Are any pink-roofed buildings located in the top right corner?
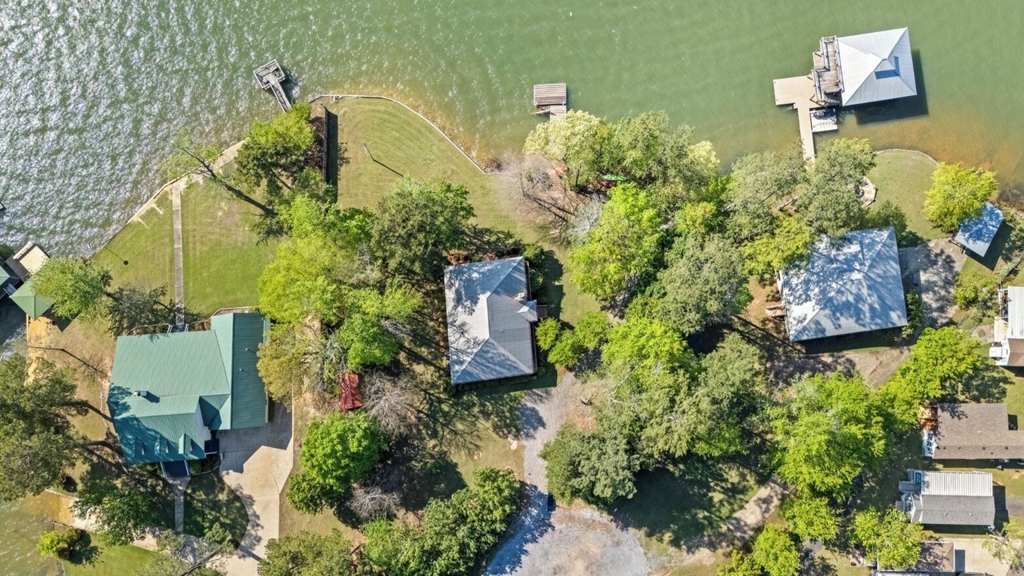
No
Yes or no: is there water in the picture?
Yes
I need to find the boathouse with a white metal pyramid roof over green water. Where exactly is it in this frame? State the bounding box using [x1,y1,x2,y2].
[835,27,917,111]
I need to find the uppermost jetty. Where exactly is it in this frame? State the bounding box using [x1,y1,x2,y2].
[253,59,291,111]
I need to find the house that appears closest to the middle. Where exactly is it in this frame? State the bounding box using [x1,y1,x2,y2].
[444,256,543,384]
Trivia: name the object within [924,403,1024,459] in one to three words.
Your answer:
house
